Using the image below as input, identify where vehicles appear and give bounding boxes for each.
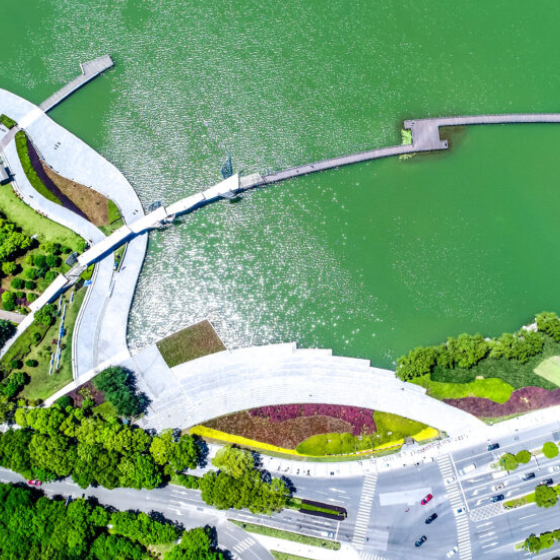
[522,472,536,480]
[491,468,509,479]
[27,478,41,485]
[454,506,467,514]
[487,442,501,450]
[420,494,432,504]
[446,546,459,557]
[324,531,337,538]
[425,513,438,524]
[459,463,479,474]
[541,477,554,485]
[415,536,427,547]
[491,494,504,502]
[493,483,506,491]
